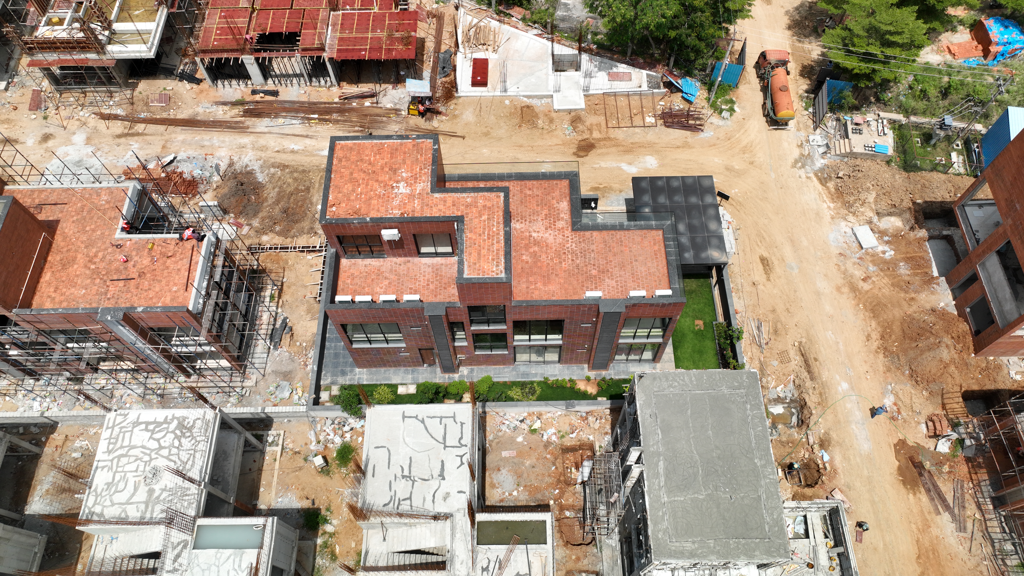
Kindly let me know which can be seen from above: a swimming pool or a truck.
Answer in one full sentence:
It is a truck that can be seen here.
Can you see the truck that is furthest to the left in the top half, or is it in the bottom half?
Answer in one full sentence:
The truck that is furthest to the left is in the top half of the image.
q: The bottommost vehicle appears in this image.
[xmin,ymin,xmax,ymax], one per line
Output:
[752,50,798,130]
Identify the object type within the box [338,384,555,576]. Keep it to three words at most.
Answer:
house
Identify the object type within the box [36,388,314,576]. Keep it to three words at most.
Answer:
house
